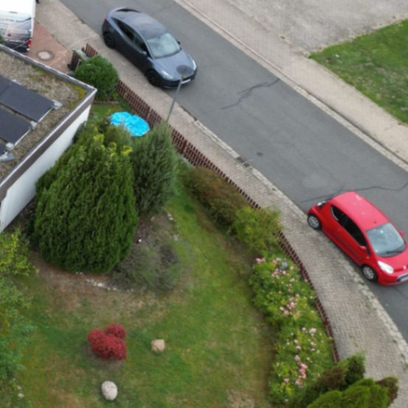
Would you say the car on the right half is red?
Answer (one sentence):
Yes, red is the color of the car on the right half.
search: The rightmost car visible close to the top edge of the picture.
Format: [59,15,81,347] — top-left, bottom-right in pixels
[101,10,202,93]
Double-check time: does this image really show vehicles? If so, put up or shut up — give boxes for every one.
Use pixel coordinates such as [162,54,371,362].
[308,194,408,290]
[0,0,37,54]
[101,10,202,93]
